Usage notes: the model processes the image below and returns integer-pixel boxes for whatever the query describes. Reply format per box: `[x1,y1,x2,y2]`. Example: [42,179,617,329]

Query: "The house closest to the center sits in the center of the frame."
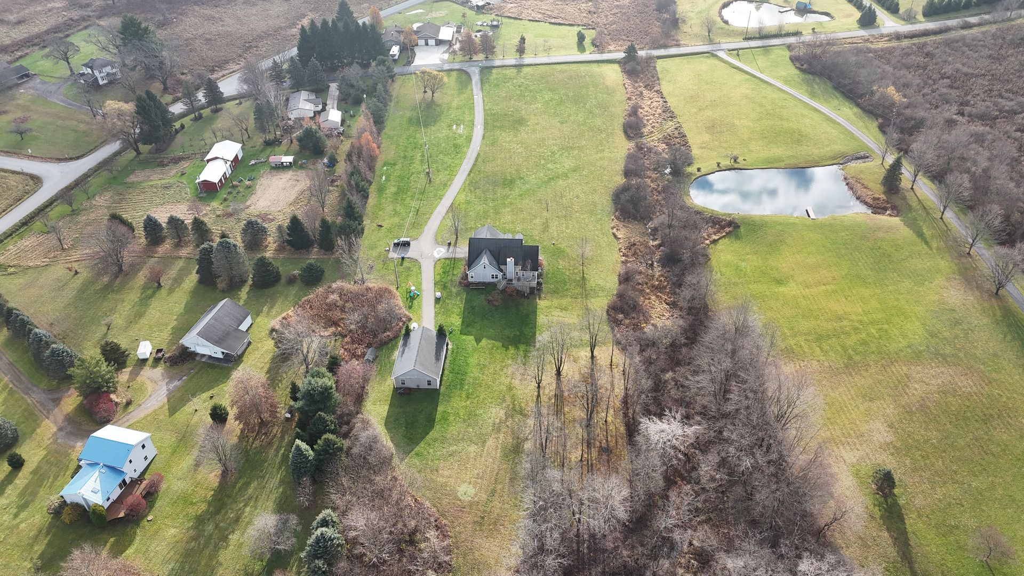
[466,221,536,282]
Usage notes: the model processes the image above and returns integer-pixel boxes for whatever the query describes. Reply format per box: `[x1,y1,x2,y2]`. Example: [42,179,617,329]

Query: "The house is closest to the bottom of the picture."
[52,424,159,515]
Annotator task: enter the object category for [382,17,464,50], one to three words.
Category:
house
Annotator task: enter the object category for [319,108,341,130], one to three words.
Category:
building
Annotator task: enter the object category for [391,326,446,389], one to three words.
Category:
building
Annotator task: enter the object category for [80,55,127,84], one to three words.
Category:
house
